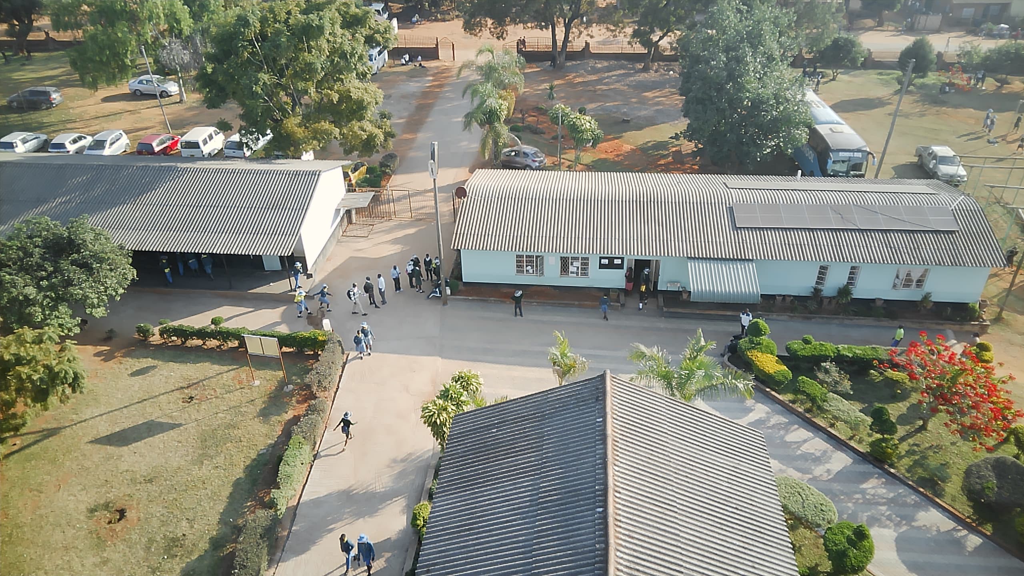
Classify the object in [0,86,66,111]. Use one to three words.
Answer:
car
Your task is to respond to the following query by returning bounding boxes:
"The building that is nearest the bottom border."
[413,369,805,576]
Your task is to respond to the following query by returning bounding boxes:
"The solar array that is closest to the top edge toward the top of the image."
[719,176,930,189]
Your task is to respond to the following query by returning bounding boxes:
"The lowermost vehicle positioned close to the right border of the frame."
[911,143,979,187]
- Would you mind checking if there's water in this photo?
No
